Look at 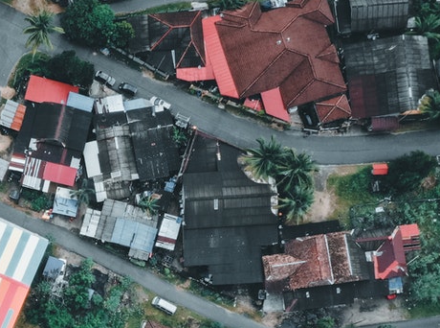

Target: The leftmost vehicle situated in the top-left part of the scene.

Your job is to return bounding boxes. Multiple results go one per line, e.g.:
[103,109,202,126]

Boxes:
[92,69,118,87]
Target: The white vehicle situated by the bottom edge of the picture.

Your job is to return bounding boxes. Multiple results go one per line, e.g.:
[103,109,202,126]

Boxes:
[153,297,176,314]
